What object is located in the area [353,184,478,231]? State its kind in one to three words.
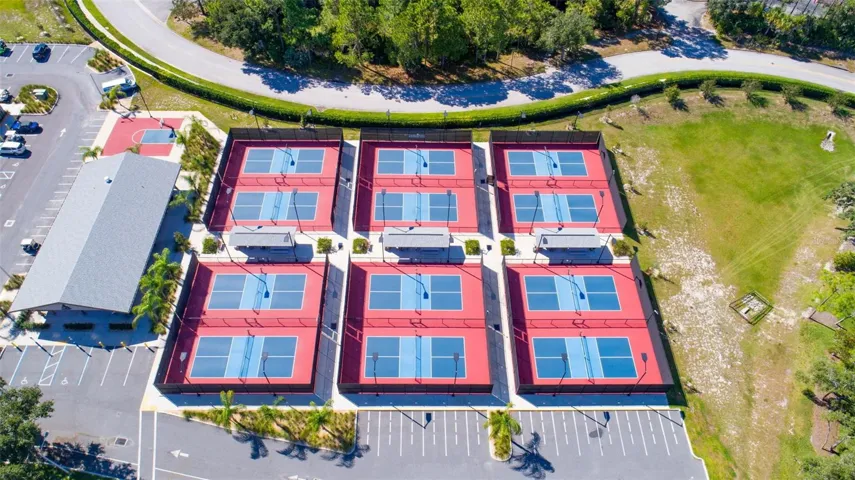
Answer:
sports court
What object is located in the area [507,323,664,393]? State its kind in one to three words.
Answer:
sports court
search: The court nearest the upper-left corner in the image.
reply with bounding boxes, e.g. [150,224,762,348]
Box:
[102,118,185,157]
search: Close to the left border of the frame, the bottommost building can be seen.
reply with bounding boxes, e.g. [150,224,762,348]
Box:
[8,151,183,323]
